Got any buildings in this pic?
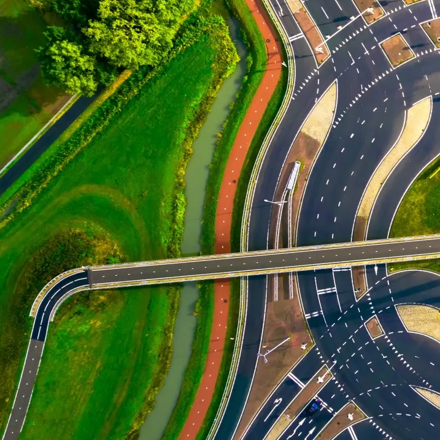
No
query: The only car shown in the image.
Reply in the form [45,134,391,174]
[305,397,321,415]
